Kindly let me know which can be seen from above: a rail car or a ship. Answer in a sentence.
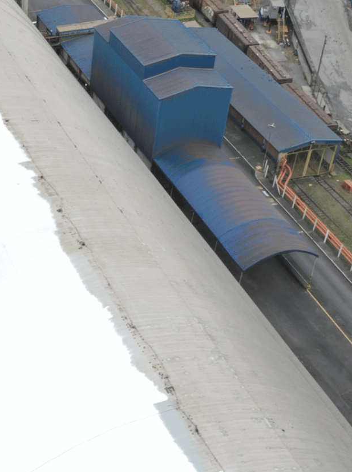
There is a rail car in the scene.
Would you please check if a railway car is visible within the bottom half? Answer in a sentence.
No, no railway car can be made out within the bottom half.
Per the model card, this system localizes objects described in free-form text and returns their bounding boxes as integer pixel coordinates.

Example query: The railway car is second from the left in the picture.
[215,12,261,56]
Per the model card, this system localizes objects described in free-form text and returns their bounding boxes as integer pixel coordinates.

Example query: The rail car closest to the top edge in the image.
[195,0,228,24]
